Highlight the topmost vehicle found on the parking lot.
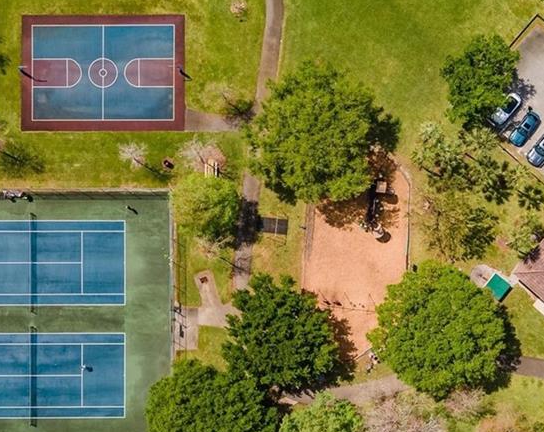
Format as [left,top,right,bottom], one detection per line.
[489,91,523,128]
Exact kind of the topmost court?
basketball court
